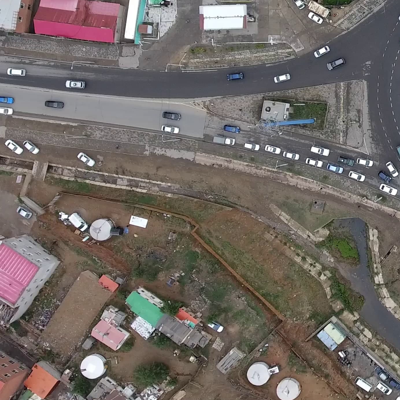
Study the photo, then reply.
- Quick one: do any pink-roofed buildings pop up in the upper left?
Yes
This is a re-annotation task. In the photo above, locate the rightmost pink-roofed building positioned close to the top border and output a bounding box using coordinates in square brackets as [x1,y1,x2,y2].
[35,0,126,42]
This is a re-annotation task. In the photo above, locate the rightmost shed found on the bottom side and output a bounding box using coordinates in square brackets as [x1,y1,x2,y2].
[318,322,349,351]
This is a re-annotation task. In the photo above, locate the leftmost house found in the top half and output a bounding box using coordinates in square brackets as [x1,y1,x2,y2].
[0,0,36,33]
